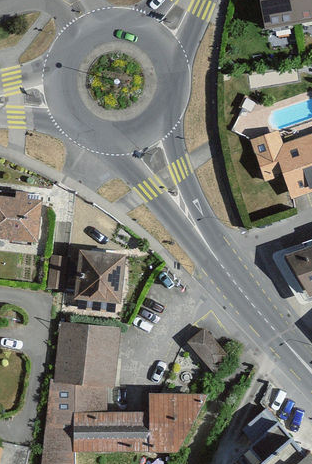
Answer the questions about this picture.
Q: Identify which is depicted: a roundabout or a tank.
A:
roundabout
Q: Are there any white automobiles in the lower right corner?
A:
Yes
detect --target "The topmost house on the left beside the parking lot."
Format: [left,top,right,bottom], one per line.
[74,250,126,304]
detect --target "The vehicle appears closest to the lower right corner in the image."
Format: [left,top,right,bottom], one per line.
[290,408,305,432]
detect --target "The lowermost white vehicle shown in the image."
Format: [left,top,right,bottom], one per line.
[271,389,287,410]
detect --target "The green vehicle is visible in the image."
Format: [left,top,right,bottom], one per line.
[114,28,138,42]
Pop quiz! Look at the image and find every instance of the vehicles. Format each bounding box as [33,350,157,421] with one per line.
[160,270,176,289]
[140,306,161,324]
[290,408,305,432]
[84,224,108,244]
[280,398,296,420]
[0,338,23,349]
[271,389,287,410]
[148,0,166,10]
[134,316,154,333]
[114,28,138,42]
[144,298,166,314]
[152,360,168,382]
